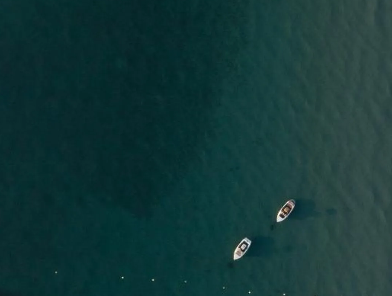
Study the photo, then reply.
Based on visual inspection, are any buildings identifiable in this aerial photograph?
No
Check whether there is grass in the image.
No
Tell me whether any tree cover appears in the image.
No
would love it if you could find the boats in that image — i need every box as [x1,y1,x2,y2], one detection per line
[278,200,296,222]
[235,237,252,259]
